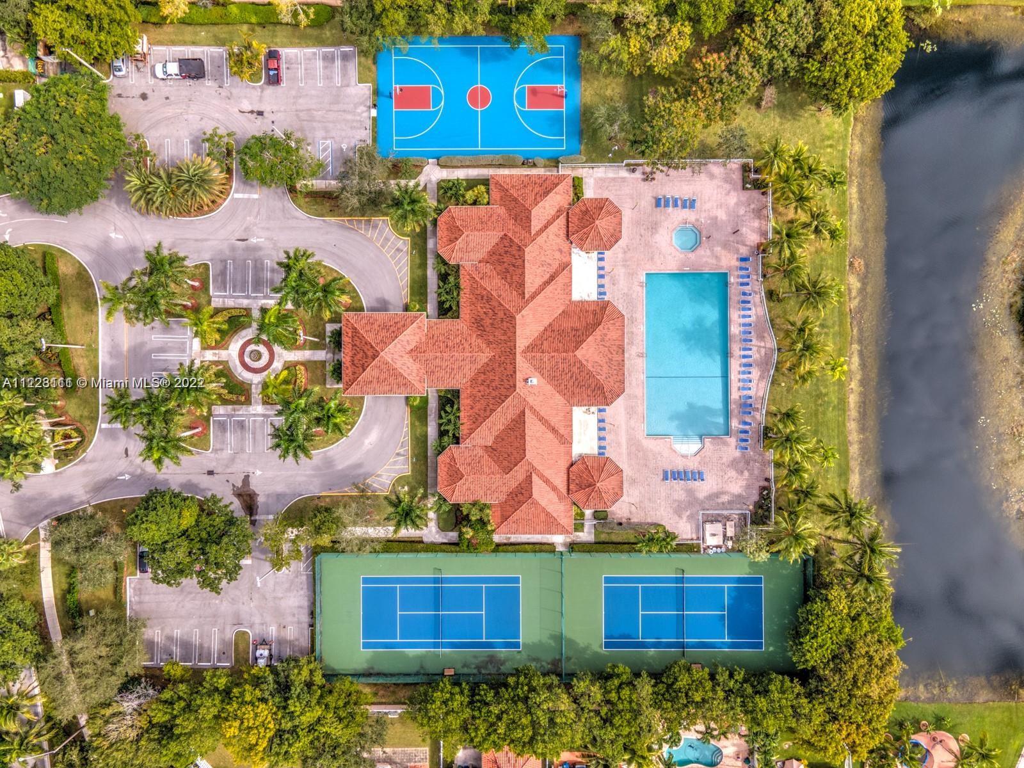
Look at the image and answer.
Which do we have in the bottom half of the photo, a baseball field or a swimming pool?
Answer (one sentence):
Looking in the bottom half of the photo, you will find a swimming pool.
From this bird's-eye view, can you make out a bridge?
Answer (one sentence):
No, the photo shows no bridge.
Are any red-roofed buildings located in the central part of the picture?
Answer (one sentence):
Yes, I can see a red-roofed building in the central part of the picture.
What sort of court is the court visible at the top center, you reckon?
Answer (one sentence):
It looks like the court visible at the top center is a basketball court.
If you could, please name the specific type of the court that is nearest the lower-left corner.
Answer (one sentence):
I'd identify the court that is nearest the lower-left corner as a tennis court.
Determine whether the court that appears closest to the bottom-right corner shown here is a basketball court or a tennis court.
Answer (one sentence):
The court that appears closest to the bottom-right corner is a tennis court.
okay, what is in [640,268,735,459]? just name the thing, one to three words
swimming pool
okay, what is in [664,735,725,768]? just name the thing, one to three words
swimming pool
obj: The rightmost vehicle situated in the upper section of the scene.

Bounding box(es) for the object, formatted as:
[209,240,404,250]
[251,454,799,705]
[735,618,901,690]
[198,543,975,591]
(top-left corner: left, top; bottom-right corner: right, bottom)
[264,48,281,84]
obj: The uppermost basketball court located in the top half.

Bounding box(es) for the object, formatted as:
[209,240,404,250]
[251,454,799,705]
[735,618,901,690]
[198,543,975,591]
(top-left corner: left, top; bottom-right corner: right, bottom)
[378,36,581,158]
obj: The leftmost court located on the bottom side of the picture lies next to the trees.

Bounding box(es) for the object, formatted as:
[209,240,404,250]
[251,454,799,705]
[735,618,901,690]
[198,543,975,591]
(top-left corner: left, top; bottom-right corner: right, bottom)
[318,554,563,674]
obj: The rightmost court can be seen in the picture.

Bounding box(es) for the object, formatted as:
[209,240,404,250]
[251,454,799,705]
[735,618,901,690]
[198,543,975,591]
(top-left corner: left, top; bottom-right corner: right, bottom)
[563,554,806,674]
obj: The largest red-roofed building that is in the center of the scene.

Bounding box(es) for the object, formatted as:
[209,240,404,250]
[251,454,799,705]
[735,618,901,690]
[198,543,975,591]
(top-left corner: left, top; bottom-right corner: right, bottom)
[341,173,625,536]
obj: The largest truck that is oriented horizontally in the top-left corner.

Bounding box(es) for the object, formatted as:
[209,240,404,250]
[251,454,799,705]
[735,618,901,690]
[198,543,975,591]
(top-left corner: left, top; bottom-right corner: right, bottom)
[153,56,203,78]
